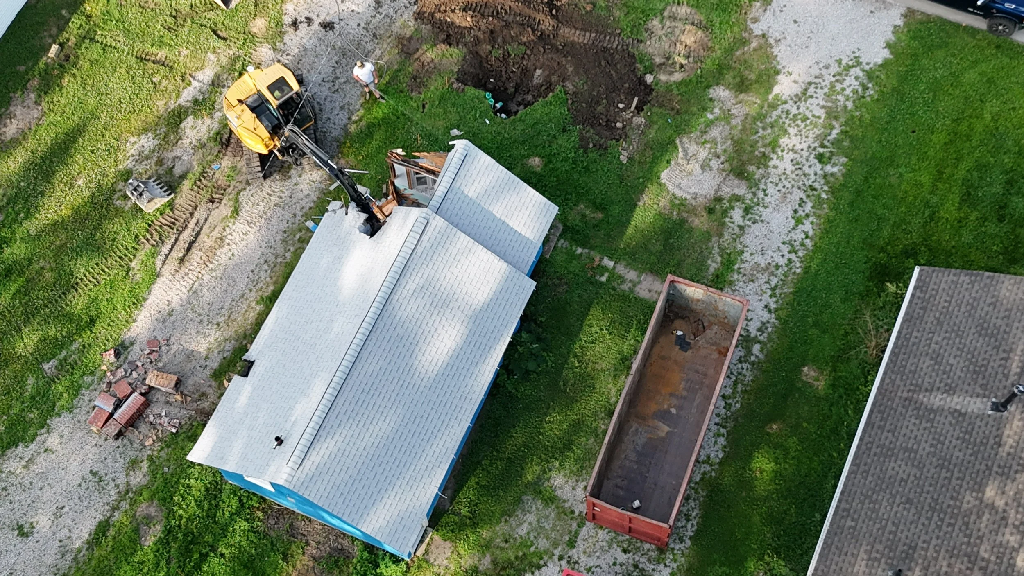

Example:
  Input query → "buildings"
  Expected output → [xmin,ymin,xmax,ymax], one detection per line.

[803,264,1024,576]
[0,0,32,41]
[187,139,561,561]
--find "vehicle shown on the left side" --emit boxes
[225,63,383,238]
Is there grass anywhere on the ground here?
Yes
